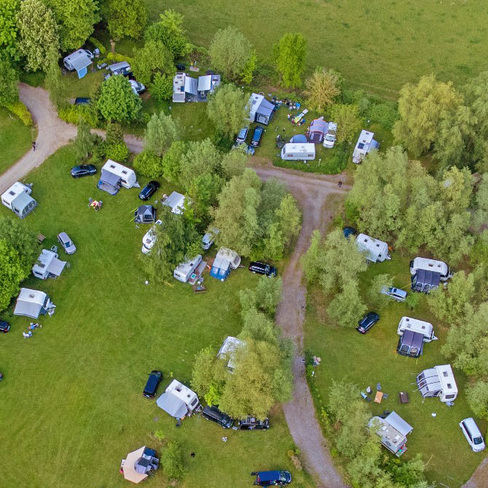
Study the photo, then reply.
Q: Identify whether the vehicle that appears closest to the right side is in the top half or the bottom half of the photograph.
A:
bottom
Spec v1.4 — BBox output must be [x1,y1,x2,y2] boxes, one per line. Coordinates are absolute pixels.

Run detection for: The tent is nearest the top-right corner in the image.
[304,114,327,139]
